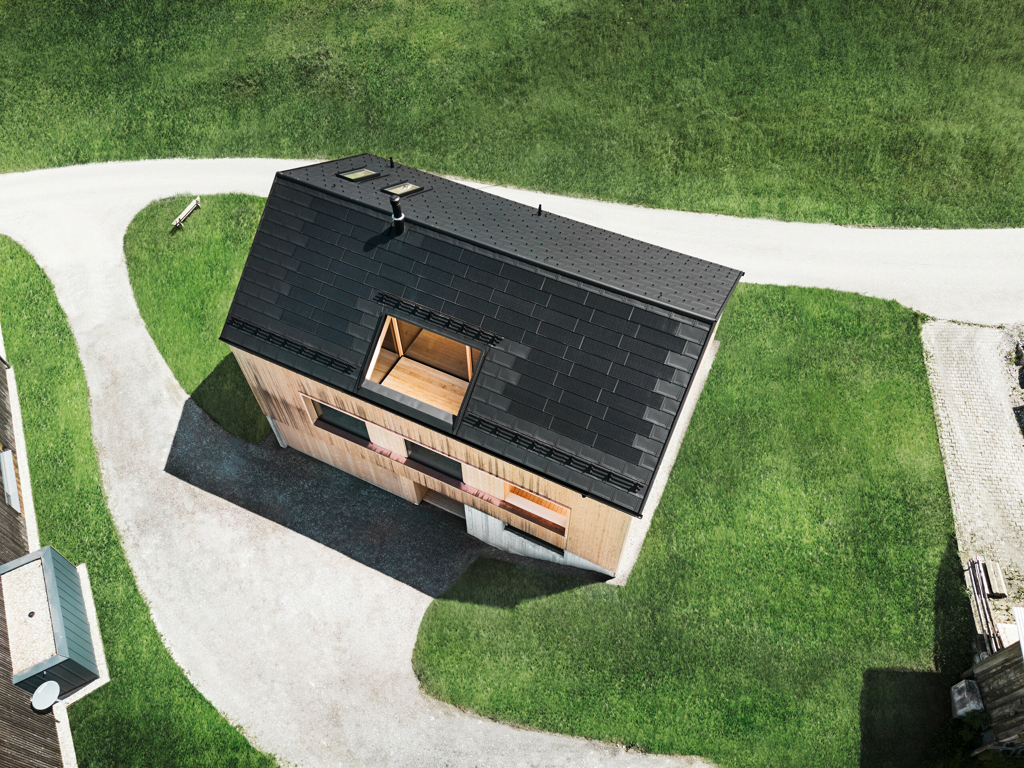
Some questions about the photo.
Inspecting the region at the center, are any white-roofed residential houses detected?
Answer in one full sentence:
No, there is no white-roofed residential house at the center.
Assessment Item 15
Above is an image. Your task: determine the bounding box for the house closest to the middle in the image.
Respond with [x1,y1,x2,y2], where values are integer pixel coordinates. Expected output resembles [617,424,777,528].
[216,151,746,575]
